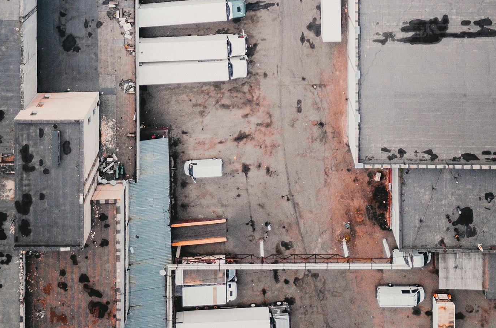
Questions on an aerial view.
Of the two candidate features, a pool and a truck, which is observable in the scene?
truck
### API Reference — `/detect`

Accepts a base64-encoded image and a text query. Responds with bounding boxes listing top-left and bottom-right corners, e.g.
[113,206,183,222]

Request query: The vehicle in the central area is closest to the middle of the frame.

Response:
[185,158,222,184]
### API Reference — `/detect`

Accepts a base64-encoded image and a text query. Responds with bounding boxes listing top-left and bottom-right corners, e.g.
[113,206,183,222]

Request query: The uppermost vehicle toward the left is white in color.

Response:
[140,0,247,27]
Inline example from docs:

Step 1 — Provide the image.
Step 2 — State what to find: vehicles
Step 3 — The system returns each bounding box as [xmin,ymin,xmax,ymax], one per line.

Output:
[176,304,291,328]
[185,158,222,184]
[182,273,238,305]
[137,27,247,61]
[321,0,342,42]
[393,247,430,269]
[140,0,247,27]
[141,55,250,84]
[378,287,424,312]
[431,289,455,328]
